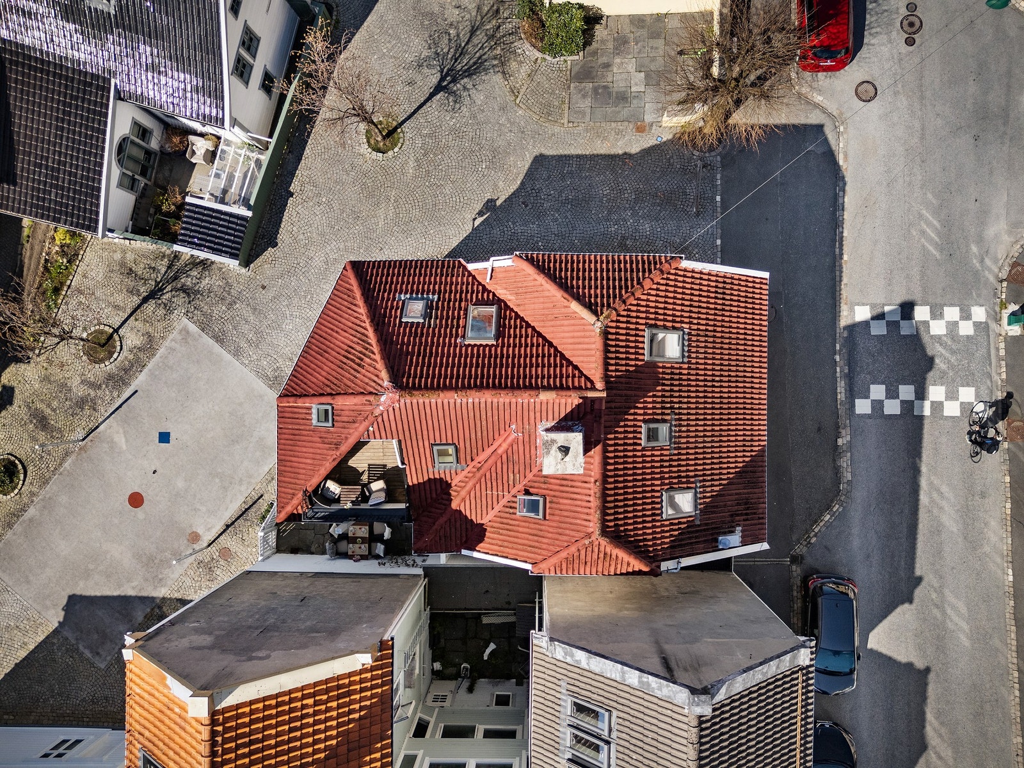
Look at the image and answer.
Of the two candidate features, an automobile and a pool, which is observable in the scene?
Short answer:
automobile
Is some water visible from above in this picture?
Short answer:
No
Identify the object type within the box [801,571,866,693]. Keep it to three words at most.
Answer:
car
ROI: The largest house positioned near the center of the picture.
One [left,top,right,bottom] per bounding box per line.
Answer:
[273,250,772,578]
